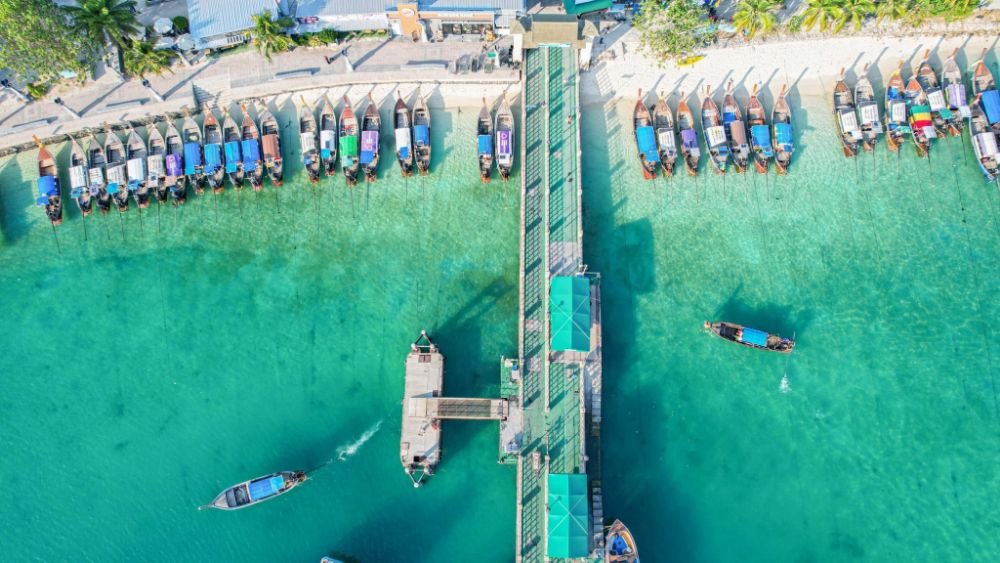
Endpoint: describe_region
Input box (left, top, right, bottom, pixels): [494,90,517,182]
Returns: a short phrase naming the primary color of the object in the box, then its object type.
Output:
white boat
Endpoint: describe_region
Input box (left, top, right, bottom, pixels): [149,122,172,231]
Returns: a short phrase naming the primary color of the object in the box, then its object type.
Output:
white boat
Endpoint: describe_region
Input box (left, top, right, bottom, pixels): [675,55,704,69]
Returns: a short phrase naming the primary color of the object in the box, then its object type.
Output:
yellow boat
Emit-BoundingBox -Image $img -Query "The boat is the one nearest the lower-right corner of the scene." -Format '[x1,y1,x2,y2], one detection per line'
[704,325,793,385]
